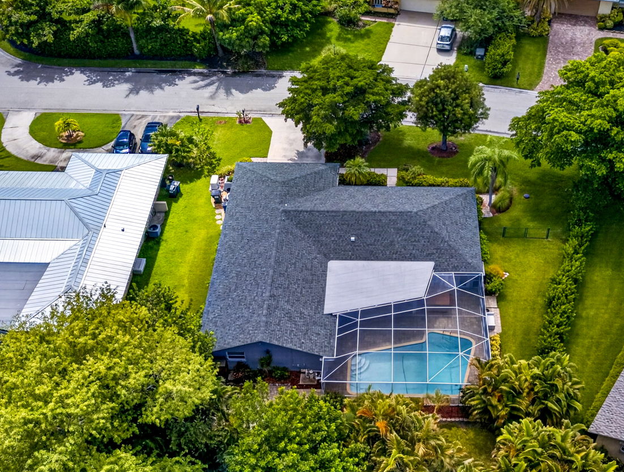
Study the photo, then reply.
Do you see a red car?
No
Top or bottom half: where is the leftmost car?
top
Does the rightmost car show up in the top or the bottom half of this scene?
top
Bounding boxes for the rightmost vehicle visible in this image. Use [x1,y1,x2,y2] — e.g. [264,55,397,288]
[434,26,458,50]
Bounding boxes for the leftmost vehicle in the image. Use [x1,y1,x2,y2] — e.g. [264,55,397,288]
[108,128,137,154]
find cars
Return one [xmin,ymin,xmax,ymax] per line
[108,128,137,154]
[434,26,458,50]
[138,114,166,153]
